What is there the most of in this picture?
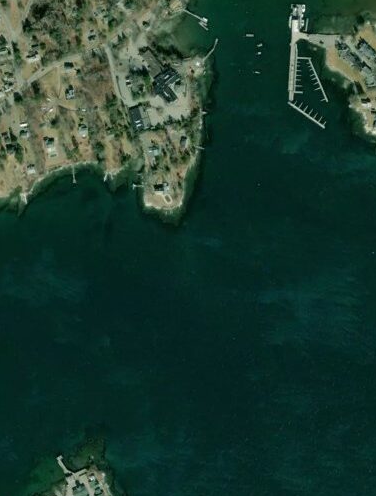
water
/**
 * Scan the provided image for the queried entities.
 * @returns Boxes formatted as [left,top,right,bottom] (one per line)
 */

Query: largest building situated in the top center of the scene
[140,50,177,103]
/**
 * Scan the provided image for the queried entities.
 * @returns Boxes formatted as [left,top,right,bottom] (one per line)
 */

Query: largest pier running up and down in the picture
[288,20,311,101]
